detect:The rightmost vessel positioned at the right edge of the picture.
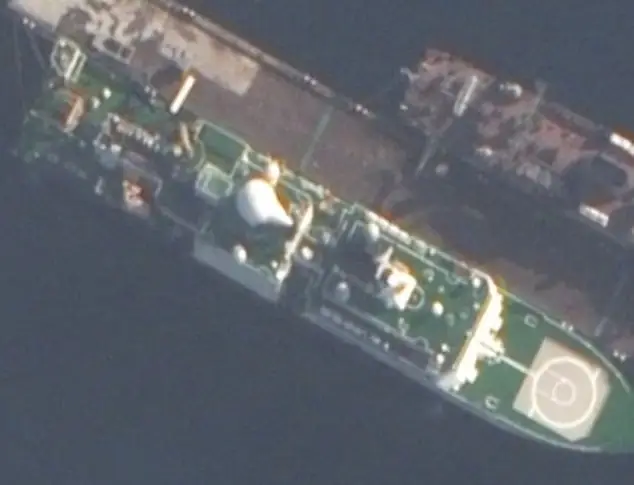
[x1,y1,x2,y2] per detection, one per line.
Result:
[400,47,634,251]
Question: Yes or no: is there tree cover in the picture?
No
